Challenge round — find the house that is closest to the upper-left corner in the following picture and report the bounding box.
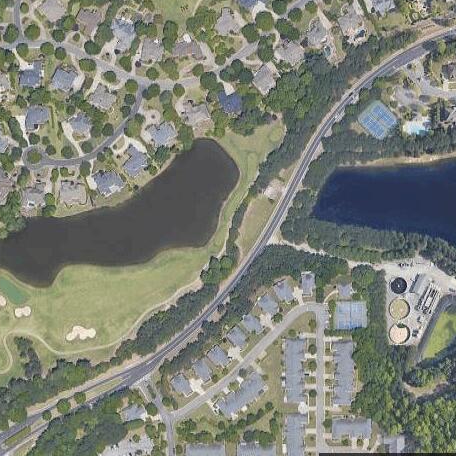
[36,0,68,20]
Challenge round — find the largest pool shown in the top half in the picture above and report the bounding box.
[403,118,431,136]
